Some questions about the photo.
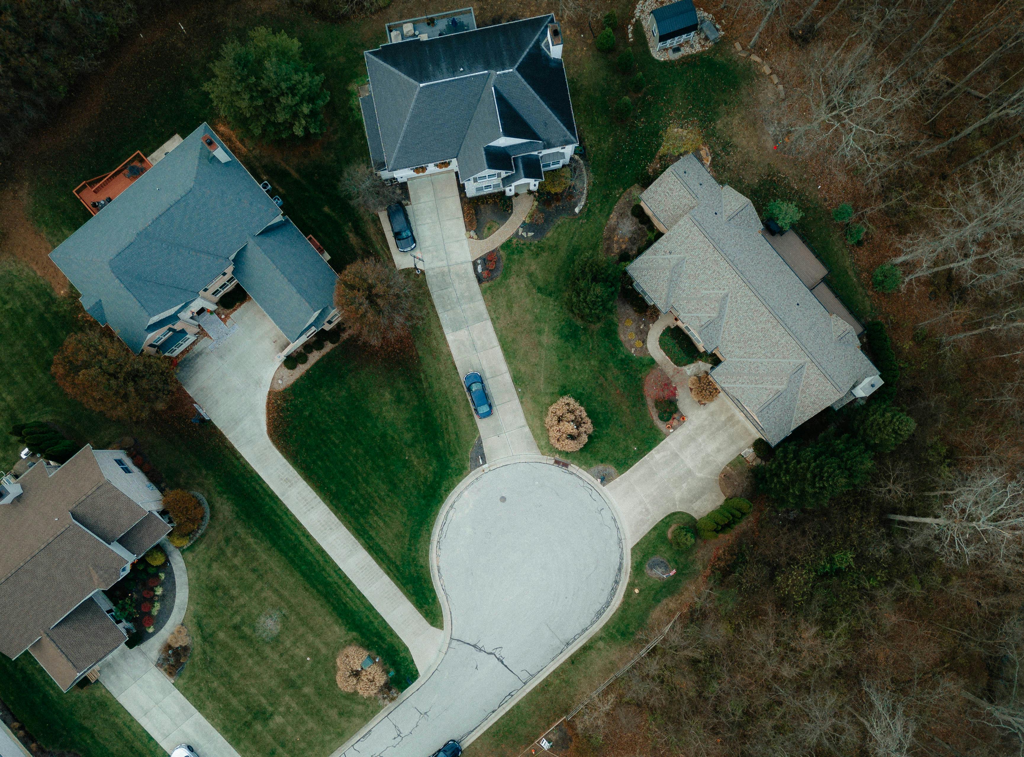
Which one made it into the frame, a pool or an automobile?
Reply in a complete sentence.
This aerial view contains an automobile.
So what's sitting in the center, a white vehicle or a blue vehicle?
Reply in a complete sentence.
It is a blue vehicle that can be seen in the center.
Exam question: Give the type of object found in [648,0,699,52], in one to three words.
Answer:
shed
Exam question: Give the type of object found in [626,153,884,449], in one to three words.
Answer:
house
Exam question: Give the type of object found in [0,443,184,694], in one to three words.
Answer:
house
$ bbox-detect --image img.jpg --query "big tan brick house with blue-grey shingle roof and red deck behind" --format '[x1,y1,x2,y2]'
[47,121,353,362]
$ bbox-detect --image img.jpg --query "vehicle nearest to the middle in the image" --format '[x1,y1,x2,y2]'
[465,371,493,420]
